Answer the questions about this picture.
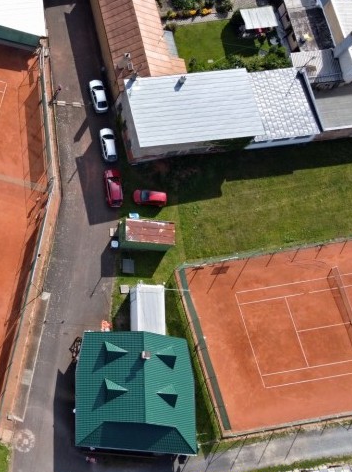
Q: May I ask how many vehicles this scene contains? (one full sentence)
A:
The picture shows 4 vehicles.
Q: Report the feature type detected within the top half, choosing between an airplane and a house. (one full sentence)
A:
The feature located within the top half is a house.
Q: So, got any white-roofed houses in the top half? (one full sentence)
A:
Yes, you'll find a white-roofed house in the top half.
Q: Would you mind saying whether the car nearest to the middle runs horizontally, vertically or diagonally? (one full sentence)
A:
I'd say the car nearest to the middle is aligned horizontally in the picture.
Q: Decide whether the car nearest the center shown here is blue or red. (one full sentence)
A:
From above, the car nearest the center appears red.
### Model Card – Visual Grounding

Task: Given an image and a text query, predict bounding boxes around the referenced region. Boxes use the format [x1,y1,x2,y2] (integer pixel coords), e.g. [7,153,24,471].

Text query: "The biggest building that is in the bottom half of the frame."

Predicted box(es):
[75,332,197,456]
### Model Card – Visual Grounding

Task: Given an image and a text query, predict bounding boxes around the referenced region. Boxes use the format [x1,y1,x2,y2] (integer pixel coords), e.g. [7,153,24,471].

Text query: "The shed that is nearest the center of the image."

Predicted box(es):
[120,219,175,251]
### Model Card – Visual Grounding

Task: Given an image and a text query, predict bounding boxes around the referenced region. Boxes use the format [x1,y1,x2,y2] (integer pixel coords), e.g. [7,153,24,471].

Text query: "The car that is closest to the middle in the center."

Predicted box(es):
[131,188,168,208]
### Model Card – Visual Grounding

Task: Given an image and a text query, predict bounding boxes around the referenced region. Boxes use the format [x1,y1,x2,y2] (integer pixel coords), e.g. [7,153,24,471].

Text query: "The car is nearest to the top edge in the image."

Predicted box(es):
[89,80,109,114]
